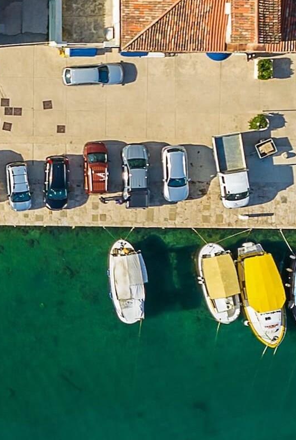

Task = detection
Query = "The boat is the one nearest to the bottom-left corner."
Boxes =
[104,239,147,324]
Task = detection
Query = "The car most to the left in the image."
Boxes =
[3,161,33,212]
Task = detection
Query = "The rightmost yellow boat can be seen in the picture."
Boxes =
[232,240,289,349]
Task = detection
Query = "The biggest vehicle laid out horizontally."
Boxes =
[62,61,122,88]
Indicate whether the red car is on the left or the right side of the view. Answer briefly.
left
